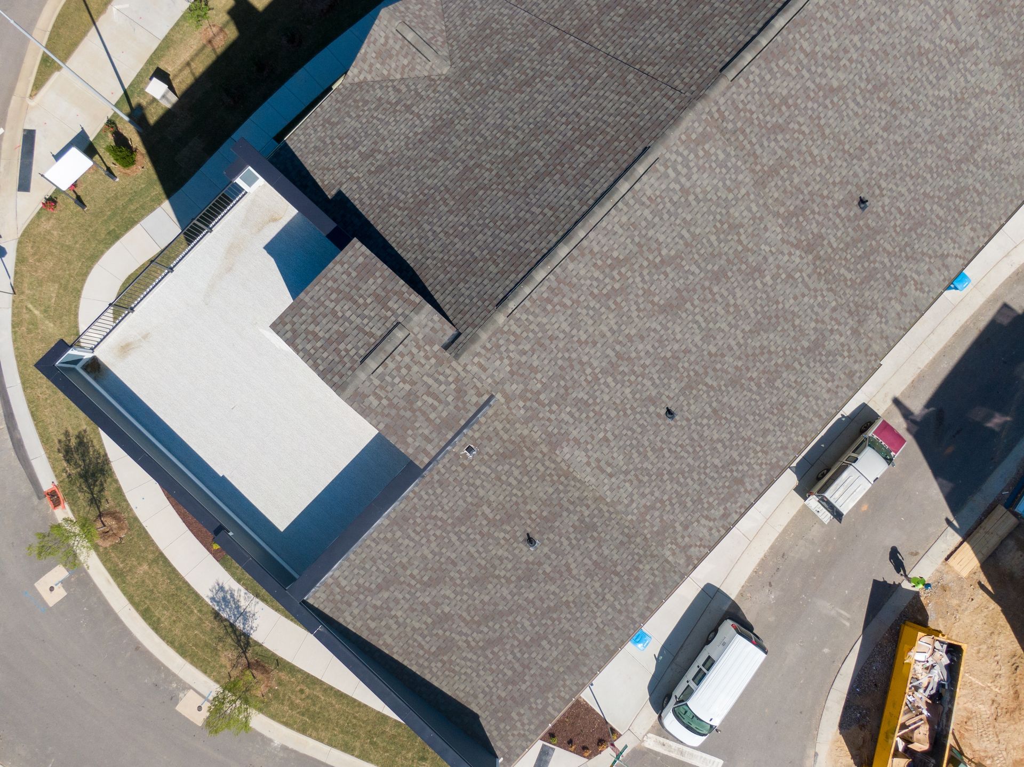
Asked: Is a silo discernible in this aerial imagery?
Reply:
No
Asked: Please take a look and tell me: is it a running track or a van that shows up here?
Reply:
van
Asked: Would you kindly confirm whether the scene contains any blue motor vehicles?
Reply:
No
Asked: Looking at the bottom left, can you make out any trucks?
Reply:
No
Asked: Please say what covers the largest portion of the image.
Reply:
buildings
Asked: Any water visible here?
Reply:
No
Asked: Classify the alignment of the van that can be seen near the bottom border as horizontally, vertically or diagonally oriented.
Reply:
diagonally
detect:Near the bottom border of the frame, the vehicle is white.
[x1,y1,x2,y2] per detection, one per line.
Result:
[656,616,770,746]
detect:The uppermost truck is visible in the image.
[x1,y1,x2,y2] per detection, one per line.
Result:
[804,416,906,527]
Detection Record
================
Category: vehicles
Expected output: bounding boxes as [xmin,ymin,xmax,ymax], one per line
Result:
[656,616,770,746]
[804,416,906,527]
